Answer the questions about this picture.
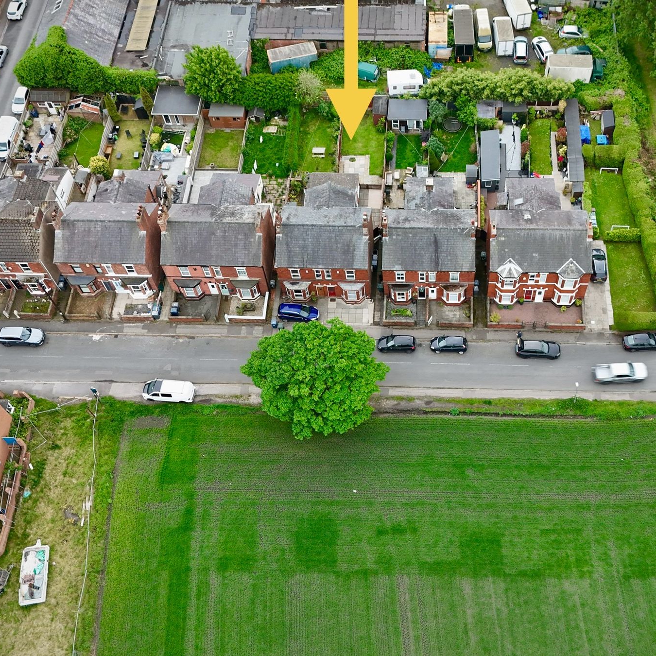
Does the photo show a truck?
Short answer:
Yes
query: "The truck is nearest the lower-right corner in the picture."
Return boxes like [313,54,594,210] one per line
[593,360,653,385]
